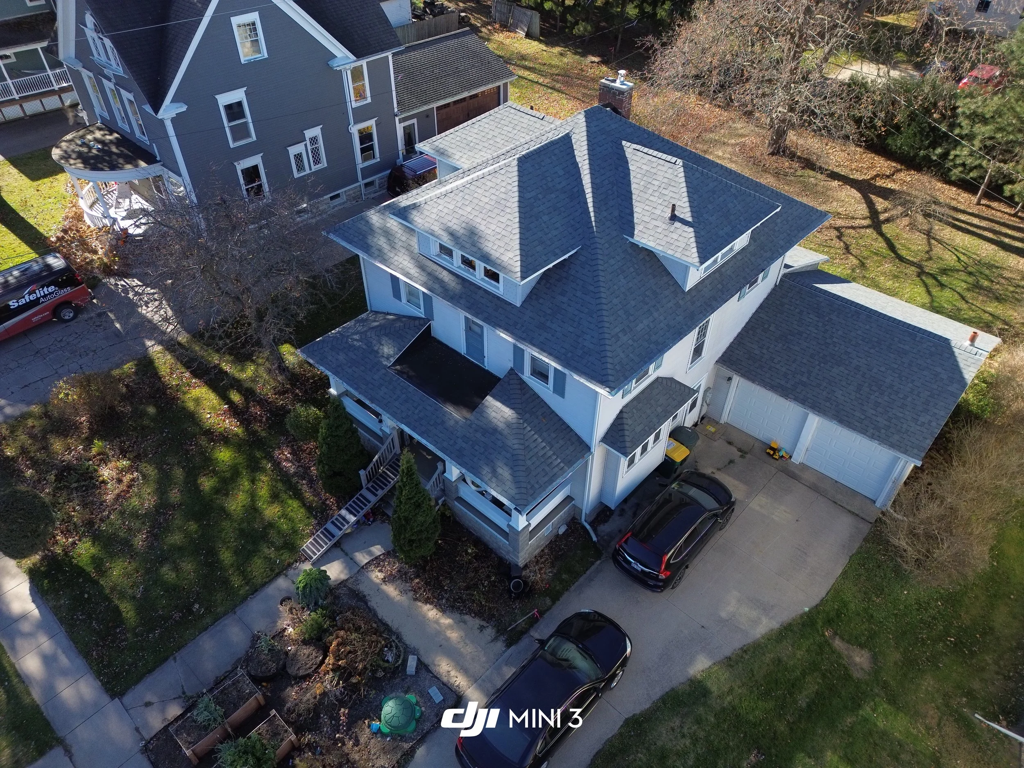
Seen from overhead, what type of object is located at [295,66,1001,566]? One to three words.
house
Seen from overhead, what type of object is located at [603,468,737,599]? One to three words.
car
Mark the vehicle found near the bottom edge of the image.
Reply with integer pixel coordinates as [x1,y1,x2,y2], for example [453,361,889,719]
[448,613,628,768]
